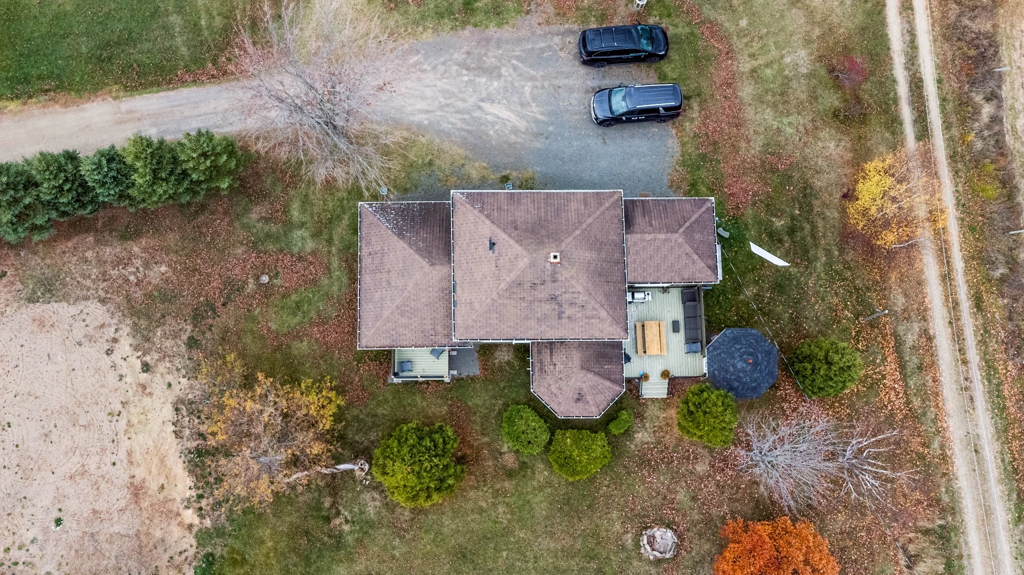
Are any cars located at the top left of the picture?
No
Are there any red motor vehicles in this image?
No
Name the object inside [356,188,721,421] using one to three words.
house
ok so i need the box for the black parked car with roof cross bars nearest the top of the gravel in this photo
[582,21,671,68]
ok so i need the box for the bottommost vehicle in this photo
[590,81,683,126]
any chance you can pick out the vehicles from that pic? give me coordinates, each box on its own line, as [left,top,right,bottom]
[590,81,683,126]
[582,21,671,68]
